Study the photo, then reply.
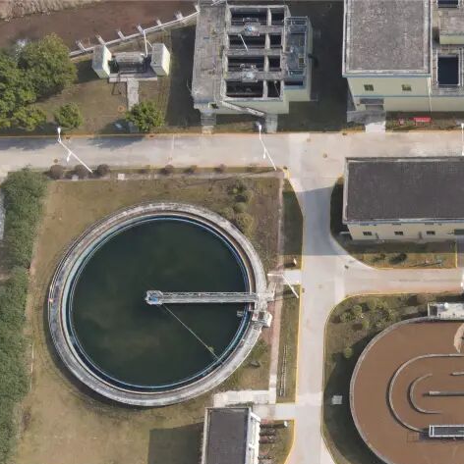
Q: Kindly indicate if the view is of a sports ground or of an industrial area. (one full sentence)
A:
This looks like an industrial area.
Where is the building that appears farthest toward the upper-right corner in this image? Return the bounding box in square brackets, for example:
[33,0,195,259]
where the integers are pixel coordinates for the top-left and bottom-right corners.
[343,0,435,123]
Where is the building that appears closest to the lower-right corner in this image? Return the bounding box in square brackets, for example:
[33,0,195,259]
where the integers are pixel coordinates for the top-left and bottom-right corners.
[206,408,259,464]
